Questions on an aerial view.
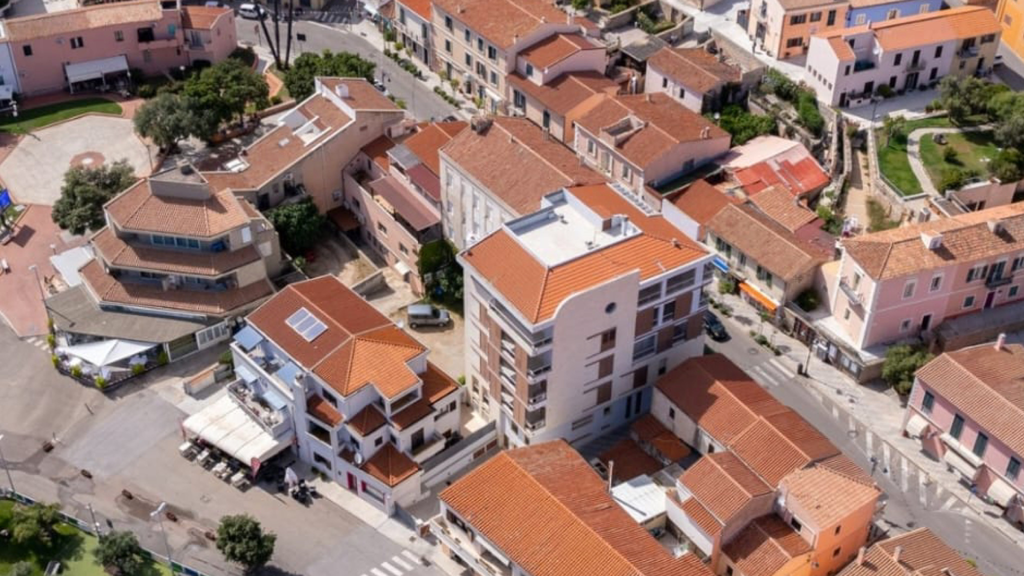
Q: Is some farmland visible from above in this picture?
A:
No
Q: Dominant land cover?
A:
buildings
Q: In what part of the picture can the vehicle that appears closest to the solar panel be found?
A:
center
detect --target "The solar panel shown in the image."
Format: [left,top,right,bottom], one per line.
[285,307,329,342]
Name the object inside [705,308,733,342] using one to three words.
car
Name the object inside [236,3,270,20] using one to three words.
car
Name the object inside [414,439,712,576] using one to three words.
house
